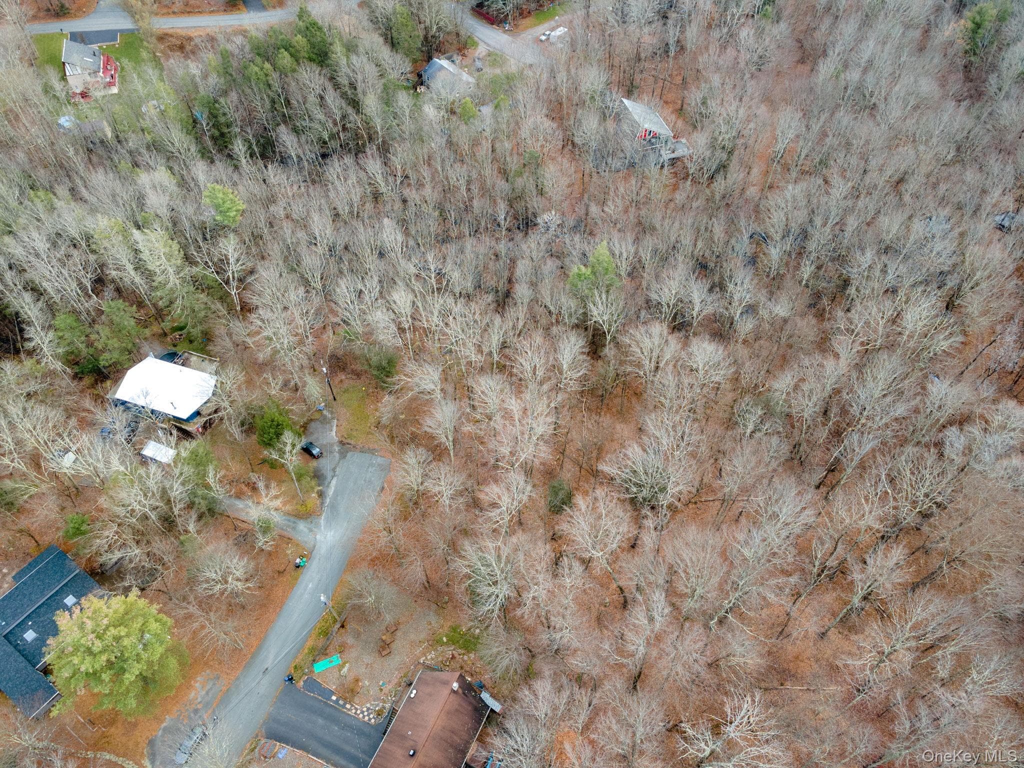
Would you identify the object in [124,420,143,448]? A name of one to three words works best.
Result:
vehicle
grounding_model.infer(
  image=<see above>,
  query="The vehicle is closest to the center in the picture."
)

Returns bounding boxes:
[301,442,326,461]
